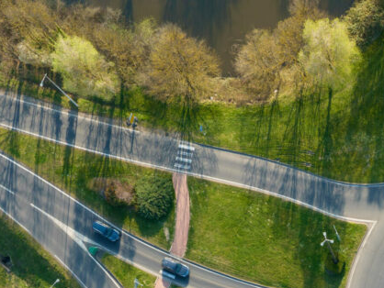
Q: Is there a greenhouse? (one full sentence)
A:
No, I can see no greenhouse in this picture.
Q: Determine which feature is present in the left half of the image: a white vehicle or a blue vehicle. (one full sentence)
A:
There is a blue vehicle in the left half of the image.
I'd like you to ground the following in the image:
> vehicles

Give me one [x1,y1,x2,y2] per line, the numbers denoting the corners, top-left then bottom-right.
[160,258,189,278]
[91,220,122,241]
